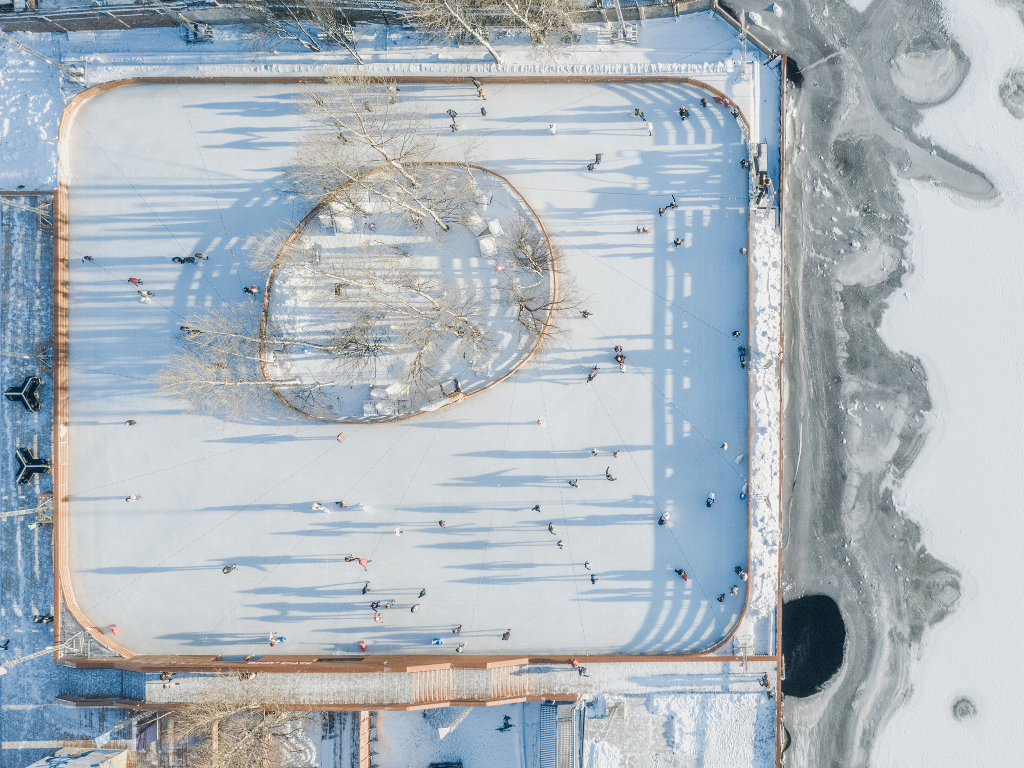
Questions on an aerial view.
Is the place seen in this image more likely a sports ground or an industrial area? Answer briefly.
sports ground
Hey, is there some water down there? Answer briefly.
Yes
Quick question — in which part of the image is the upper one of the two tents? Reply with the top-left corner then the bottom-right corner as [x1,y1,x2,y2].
[3,376,49,410]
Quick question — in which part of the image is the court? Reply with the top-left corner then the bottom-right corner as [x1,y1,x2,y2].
[66,83,750,655]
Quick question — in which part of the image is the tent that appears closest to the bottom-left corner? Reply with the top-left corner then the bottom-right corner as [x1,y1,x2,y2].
[16,446,51,483]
